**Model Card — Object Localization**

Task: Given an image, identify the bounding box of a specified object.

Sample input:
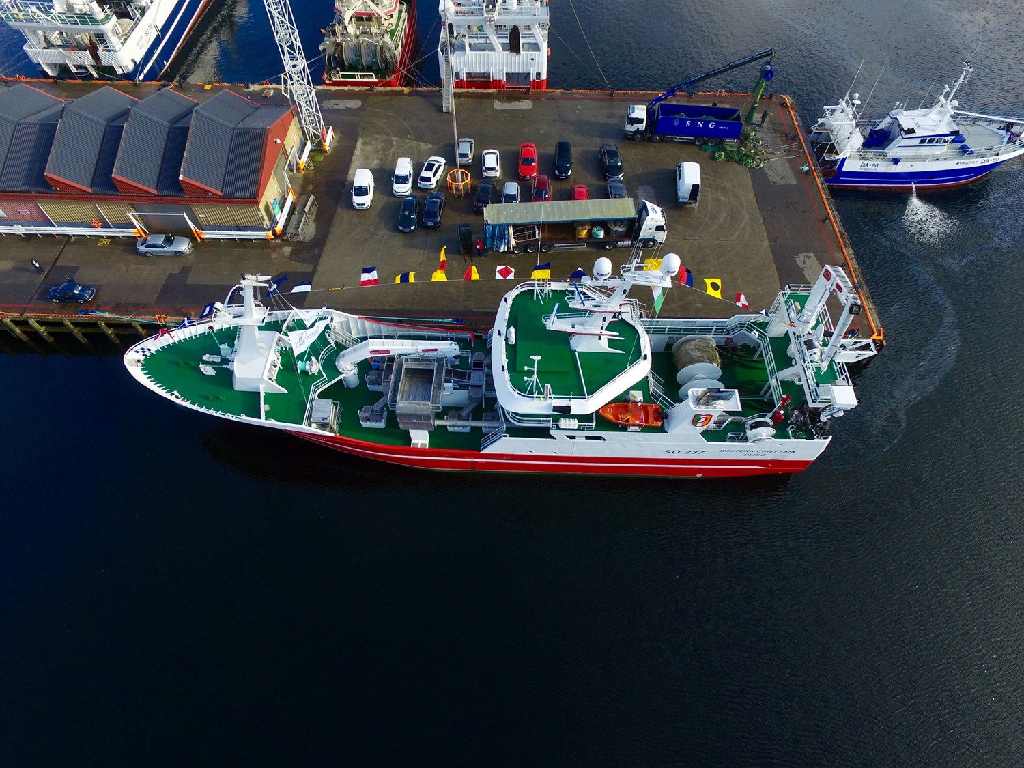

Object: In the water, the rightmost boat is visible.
[805,44,1024,189]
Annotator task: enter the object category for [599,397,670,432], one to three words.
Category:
boat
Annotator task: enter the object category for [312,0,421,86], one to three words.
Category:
boat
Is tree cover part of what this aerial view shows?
No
